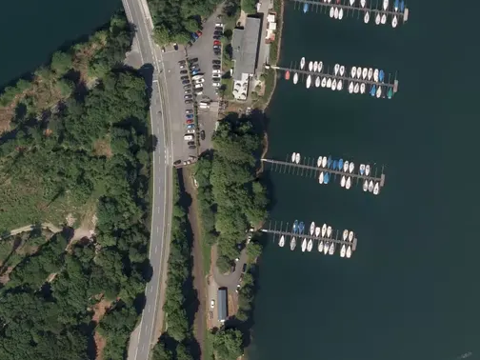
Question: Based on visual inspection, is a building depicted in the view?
Yes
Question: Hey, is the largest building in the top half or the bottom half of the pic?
top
